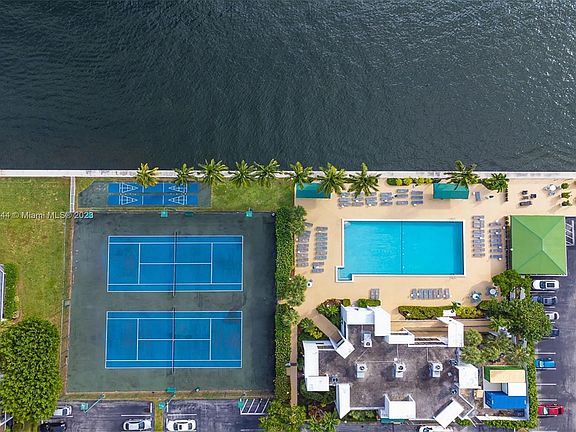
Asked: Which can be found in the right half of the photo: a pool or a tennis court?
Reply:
pool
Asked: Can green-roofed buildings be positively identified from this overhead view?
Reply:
Yes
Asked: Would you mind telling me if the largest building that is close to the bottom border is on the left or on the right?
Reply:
right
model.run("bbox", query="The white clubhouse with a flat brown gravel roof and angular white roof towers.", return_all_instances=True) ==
[303,303,478,428]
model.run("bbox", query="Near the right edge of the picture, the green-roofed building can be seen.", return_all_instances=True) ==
[503,214,567,276]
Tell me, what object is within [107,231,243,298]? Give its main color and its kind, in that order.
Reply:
blue tennis court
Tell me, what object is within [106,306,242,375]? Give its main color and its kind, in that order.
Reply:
blue tennis court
